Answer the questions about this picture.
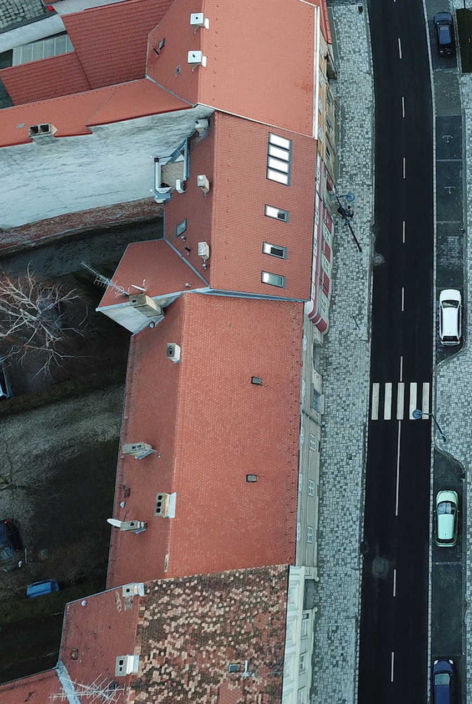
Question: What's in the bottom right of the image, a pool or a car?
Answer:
car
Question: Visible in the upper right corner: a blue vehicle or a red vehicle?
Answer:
blue vehicle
